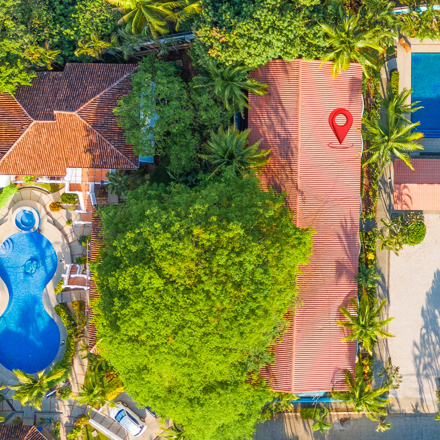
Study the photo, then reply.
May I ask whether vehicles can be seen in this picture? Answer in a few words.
Yes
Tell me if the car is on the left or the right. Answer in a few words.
left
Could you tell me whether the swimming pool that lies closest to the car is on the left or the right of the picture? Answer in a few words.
left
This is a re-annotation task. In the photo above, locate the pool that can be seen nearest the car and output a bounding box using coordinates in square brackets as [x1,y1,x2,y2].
[0,232,60,373]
